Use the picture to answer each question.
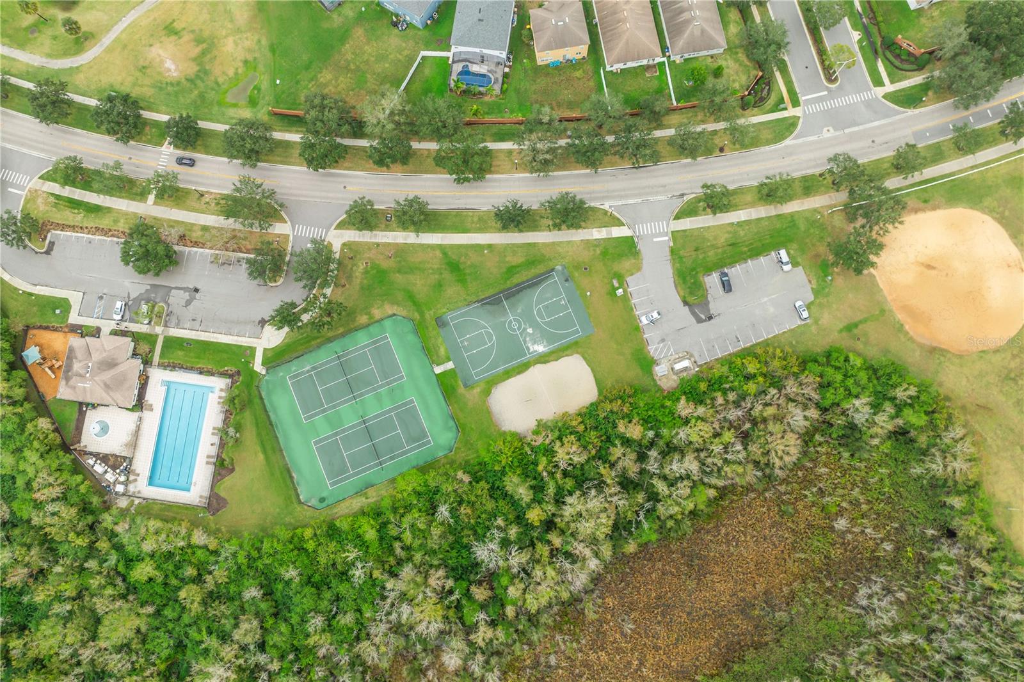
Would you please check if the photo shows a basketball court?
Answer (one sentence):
Yes, there is a basketball court in the image.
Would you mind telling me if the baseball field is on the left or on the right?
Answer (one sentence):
You can find the baseball field on the right side of the picture.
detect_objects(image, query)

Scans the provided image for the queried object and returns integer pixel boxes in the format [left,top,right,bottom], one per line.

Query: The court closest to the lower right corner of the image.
[487,353,599,435]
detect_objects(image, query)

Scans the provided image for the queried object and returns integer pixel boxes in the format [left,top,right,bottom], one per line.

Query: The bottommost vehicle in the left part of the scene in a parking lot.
[112,299,125,320]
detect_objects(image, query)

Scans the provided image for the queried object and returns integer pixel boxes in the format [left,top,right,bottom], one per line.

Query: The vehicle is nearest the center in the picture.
[640,310,662,324]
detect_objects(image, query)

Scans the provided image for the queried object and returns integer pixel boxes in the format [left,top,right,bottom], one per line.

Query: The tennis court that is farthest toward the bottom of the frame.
[312,397,433,489]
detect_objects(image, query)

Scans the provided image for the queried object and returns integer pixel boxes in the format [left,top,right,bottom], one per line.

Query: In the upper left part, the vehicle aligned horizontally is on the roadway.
[173,154,195,166]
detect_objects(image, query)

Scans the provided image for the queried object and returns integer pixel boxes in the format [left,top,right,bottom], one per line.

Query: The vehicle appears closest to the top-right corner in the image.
[777,248,792,270]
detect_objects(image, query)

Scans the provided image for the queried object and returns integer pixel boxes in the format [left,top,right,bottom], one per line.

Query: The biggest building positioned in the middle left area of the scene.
[56,335,146,408]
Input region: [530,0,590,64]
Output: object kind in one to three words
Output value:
house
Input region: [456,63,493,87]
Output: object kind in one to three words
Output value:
swimming pool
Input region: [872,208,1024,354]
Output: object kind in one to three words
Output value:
baseball field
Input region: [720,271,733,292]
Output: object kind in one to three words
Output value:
vehicle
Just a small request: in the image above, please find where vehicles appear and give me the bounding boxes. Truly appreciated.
[173,154,195,166]
[112,299,125,320]
[795,299,811,321]
[720,271,733,292]
[777,248,792,270]
[640,310,662,324]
